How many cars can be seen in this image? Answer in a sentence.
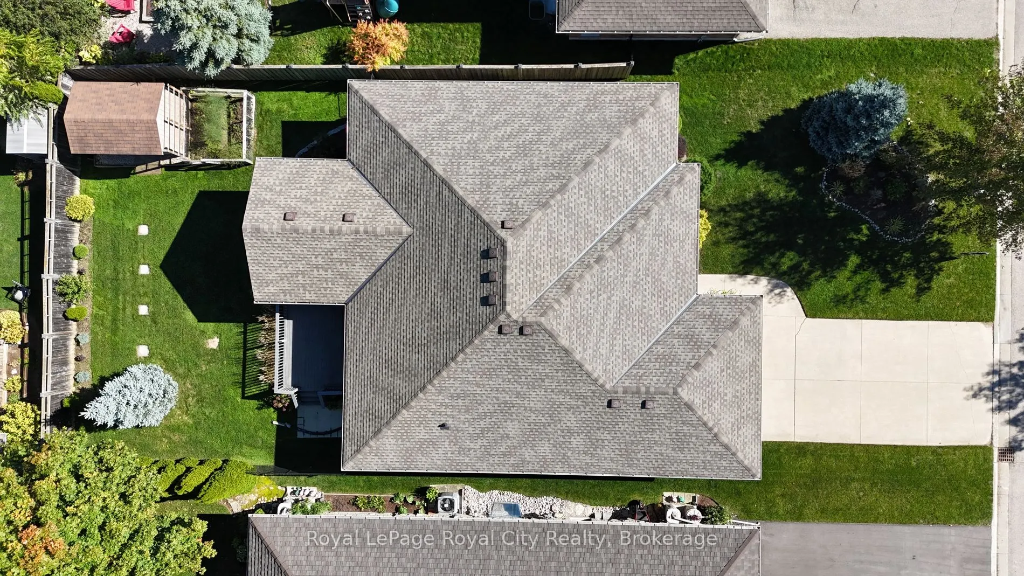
The photo contains no cars.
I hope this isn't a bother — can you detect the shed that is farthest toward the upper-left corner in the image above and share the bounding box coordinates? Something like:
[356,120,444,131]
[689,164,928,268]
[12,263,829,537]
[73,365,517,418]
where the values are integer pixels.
[7,105,58,161]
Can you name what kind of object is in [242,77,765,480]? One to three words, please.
house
